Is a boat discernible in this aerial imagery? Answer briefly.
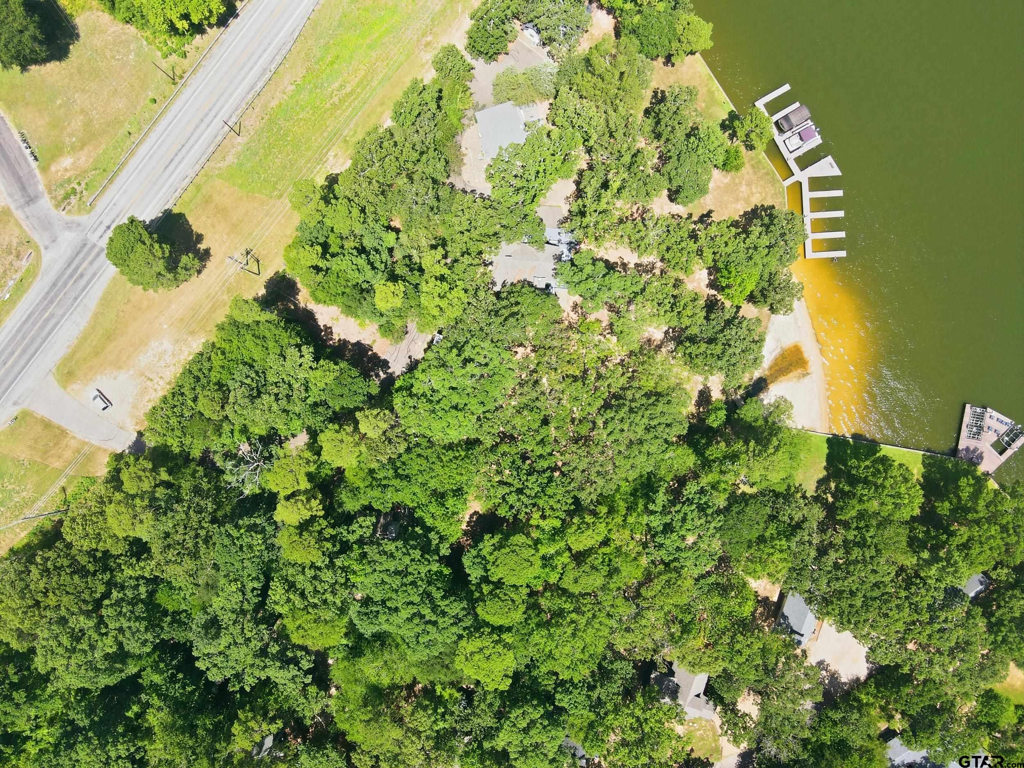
Yes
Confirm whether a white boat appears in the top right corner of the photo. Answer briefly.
Yes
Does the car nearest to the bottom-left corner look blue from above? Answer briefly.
No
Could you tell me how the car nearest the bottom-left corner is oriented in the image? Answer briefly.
on a diagonal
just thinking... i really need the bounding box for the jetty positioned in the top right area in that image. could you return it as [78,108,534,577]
[753,83,846,258]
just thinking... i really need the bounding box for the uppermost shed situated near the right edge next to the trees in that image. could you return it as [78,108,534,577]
[957,572,989,597]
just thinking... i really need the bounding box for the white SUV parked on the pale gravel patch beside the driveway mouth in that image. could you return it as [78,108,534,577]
[86,390,111,414]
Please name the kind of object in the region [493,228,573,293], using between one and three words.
house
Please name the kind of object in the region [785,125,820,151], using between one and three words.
boat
